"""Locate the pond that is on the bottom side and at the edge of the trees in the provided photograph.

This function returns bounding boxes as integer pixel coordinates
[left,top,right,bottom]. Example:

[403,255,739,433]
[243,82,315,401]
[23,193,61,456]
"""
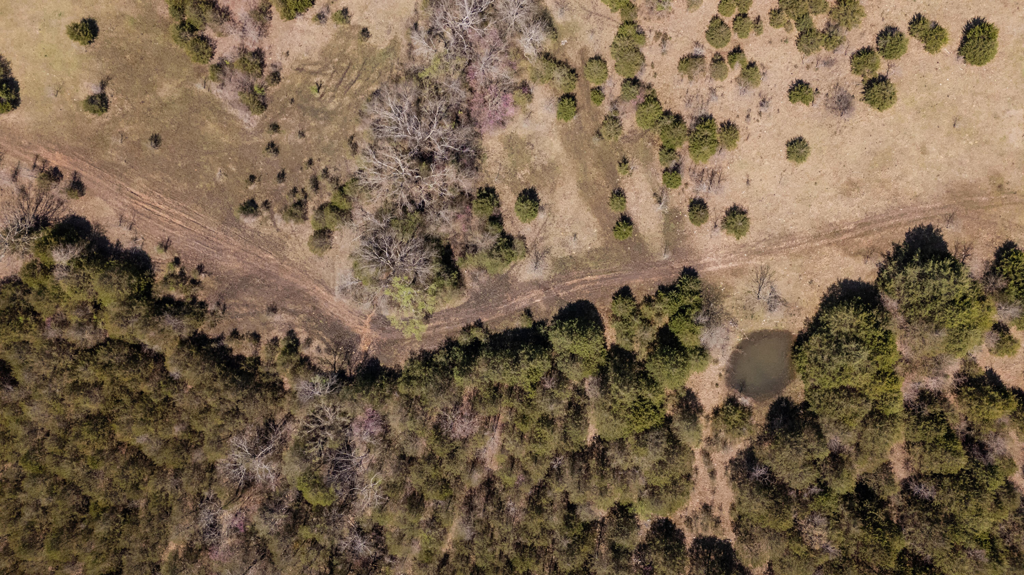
[722,328,800,405]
